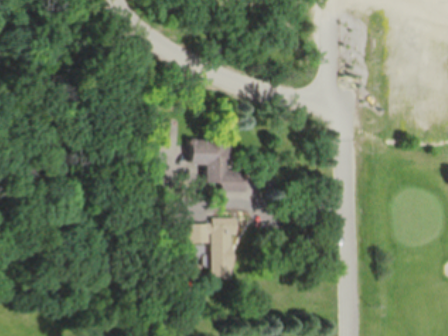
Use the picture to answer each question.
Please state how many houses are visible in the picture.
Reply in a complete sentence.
The number of houses here is 2.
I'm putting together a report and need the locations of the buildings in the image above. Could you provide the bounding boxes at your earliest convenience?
[193,138,248,194]
[192,218,236,278]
